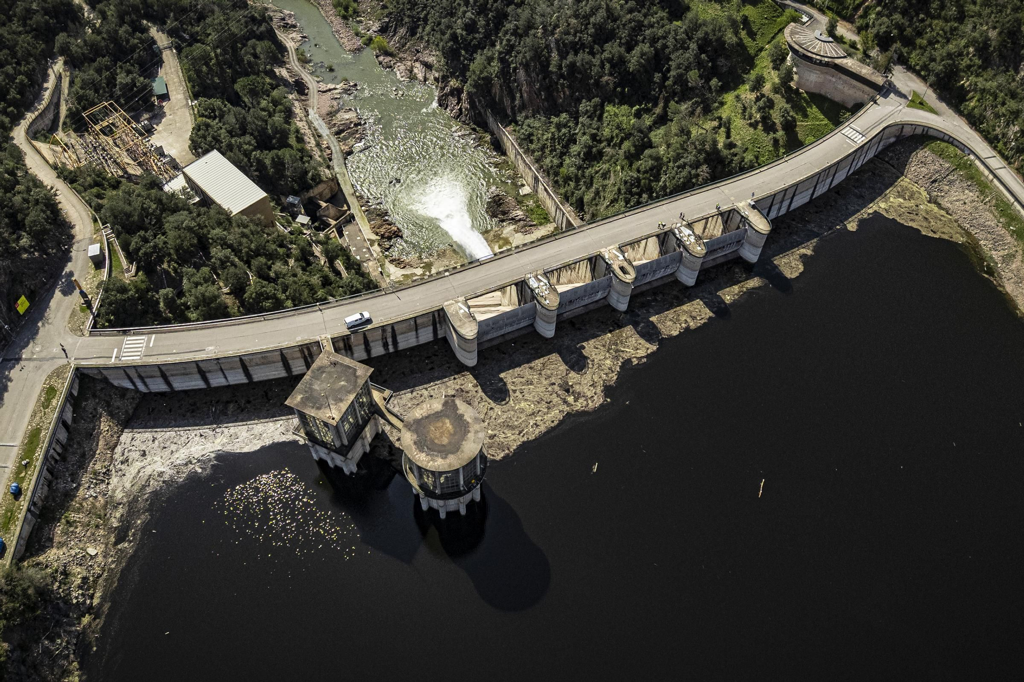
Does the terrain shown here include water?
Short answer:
Yes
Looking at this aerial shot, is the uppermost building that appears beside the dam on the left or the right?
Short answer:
right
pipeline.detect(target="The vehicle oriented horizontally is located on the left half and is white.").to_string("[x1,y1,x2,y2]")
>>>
[343,313,372,328]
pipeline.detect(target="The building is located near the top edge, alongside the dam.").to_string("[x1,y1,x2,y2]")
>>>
[783,23,887,94]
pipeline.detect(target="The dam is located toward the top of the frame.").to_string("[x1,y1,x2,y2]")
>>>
[76,93,1024,395]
